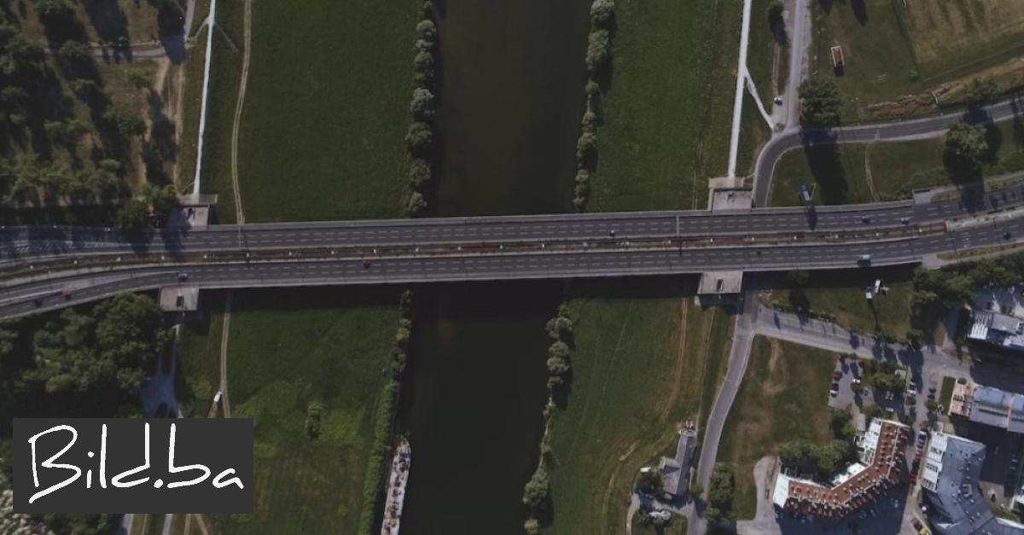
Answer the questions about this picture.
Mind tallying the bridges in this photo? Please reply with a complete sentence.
I count just 1 bridge.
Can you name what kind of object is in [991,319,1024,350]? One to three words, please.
house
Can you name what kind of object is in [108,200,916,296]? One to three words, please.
bridge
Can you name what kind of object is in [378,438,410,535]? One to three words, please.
ship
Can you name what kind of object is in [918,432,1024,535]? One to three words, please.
building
